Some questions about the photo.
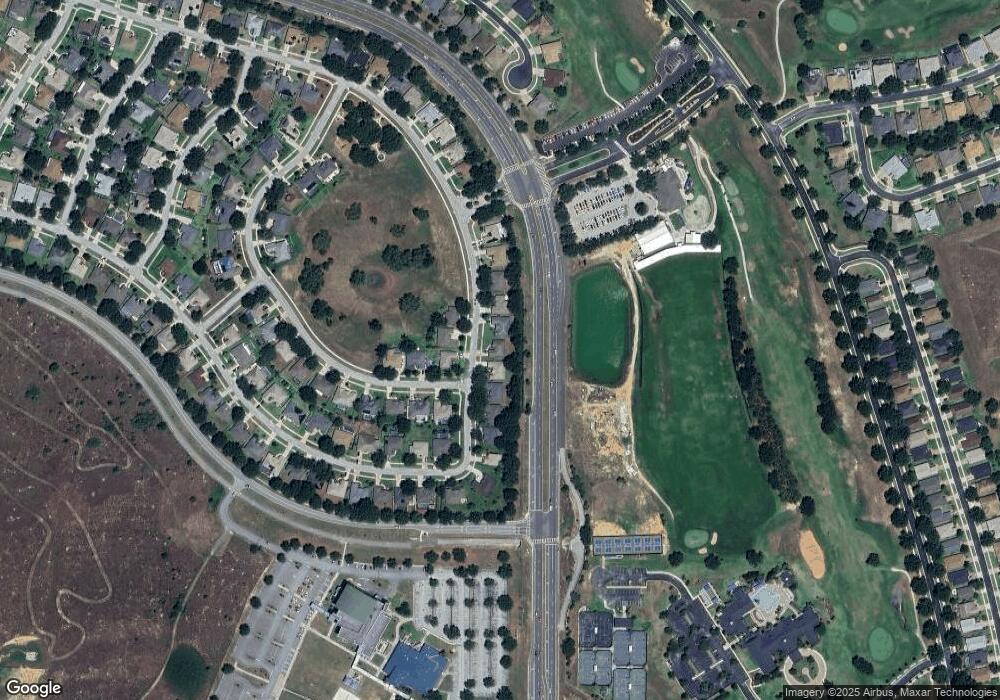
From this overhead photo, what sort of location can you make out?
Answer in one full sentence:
This looks like a residential area.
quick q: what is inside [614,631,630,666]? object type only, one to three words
tennis court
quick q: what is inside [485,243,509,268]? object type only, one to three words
house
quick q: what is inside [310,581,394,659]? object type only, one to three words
building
